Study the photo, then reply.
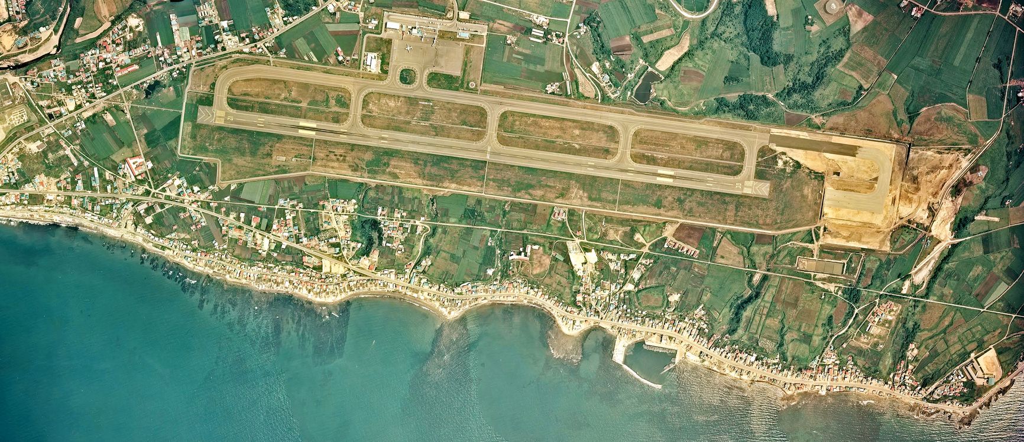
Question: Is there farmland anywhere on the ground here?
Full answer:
Yes, there's farmland in this view.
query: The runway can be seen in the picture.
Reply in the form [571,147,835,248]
[197,105,771,199]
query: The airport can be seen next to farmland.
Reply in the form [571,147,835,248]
[180,31,907,253]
